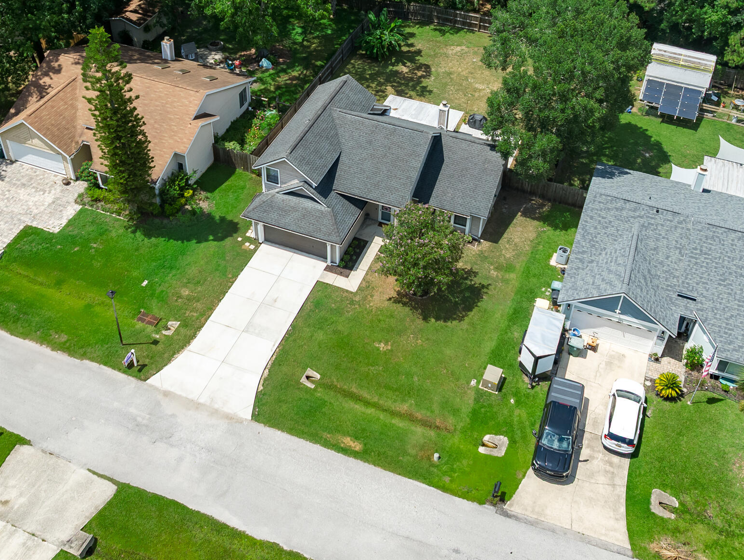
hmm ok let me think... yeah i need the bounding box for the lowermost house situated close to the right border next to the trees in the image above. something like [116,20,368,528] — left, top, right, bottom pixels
[557,161,744,384]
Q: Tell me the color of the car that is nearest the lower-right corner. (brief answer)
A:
white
